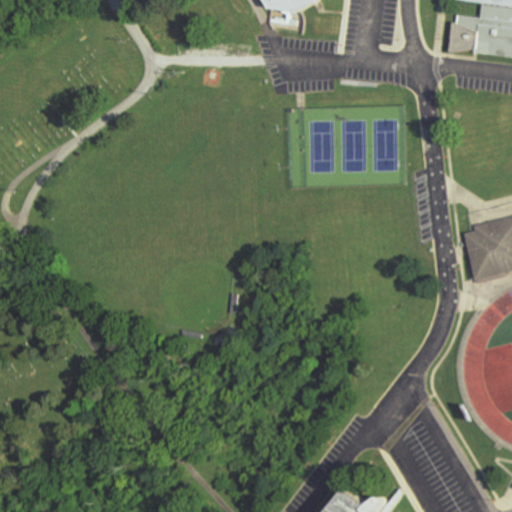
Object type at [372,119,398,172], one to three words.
tennis court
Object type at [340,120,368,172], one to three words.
tennis court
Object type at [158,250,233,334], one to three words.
baseball field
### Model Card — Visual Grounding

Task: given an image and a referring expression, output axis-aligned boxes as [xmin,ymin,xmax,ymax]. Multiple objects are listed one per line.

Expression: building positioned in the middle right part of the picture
[461,214,512,282]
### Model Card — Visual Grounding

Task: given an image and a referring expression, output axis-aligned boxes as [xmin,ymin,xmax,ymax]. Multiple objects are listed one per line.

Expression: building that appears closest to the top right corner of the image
[450,0,512,59]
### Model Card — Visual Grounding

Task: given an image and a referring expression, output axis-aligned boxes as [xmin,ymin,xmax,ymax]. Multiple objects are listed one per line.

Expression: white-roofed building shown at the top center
[260,0,318,30]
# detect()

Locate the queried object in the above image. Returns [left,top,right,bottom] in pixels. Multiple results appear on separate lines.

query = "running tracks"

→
[457,284,512,452]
